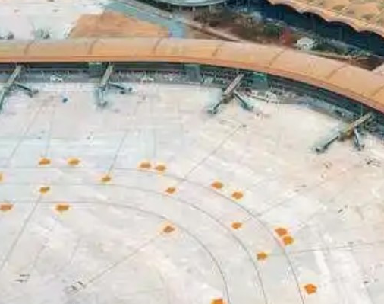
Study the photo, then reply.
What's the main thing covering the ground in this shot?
paved ground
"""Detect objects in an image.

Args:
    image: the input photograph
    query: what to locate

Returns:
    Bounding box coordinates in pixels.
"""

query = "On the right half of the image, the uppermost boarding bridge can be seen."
[209,73,255,115]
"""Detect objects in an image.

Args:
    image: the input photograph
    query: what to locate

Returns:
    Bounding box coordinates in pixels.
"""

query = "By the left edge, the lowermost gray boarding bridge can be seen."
[0,65,37,113]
